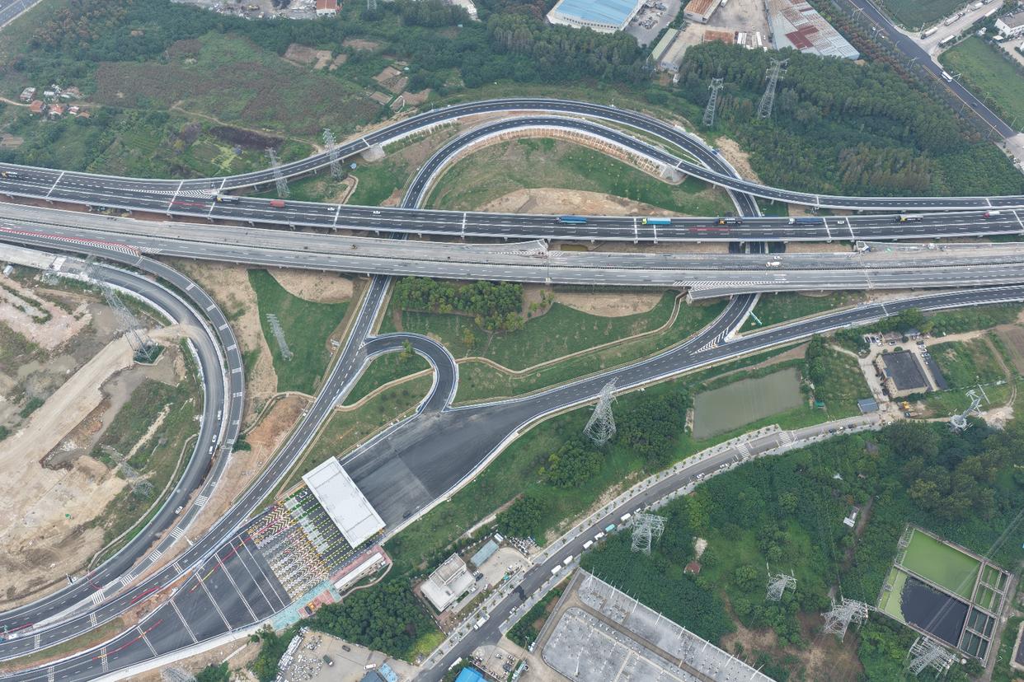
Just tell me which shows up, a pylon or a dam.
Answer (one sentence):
This aerial view contains a pylon.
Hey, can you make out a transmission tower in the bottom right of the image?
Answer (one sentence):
Yes, you'll find a transmission tower in the bottom right of the image.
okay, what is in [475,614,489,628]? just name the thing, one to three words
vehicle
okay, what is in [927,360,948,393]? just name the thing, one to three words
shed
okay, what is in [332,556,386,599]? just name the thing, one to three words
building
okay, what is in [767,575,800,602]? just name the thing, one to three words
pylon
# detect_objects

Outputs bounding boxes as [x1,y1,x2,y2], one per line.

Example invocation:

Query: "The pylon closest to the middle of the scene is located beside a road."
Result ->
[583,378,616,448]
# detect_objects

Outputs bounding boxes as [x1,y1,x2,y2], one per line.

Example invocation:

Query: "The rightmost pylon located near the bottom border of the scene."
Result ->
[903,639,962,679]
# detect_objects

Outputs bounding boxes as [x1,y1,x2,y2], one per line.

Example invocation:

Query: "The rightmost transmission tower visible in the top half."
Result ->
[760,63,786,105]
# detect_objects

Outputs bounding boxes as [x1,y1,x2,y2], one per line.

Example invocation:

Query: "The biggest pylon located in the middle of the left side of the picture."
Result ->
[89,262,162,363]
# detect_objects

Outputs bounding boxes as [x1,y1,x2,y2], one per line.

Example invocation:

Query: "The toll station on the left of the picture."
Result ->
[243,458,395,605]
